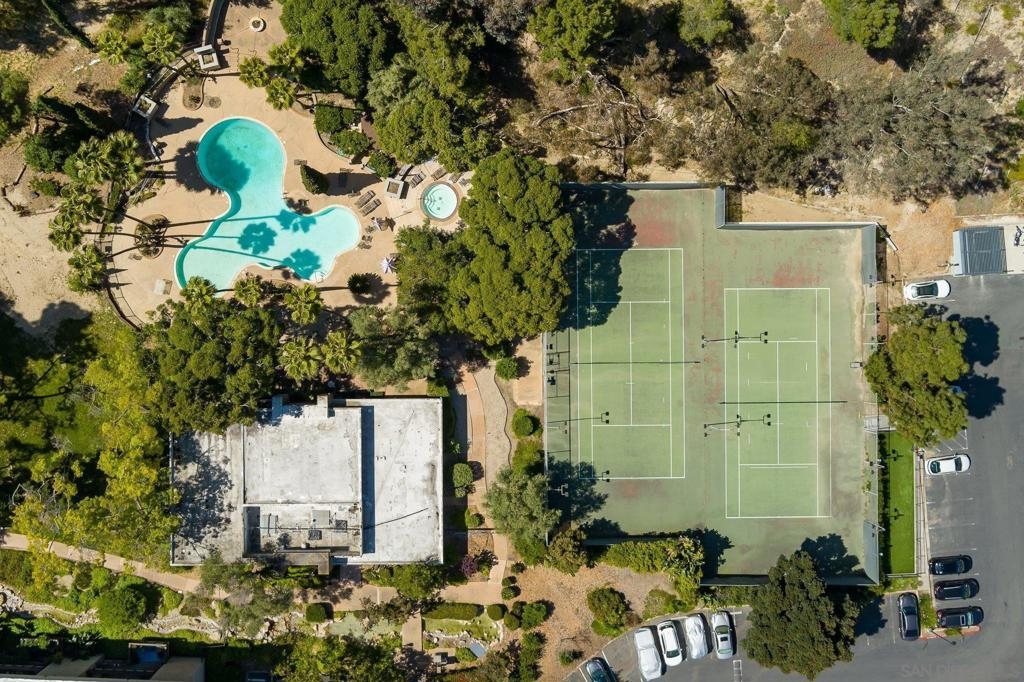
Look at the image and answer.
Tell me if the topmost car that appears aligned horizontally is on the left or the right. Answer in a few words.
right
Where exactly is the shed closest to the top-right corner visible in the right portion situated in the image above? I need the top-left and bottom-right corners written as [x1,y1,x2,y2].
[951,227,1006,276]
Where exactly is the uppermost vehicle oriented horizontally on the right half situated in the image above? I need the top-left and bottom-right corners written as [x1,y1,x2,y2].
[901,278,950,300]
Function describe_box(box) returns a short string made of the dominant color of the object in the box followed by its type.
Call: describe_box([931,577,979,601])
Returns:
black car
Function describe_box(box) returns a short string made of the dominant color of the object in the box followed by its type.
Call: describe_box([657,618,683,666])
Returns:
white car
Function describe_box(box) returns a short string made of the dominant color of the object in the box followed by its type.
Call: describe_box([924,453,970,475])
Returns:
white car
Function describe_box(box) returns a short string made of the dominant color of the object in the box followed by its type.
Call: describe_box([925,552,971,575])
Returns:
black car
